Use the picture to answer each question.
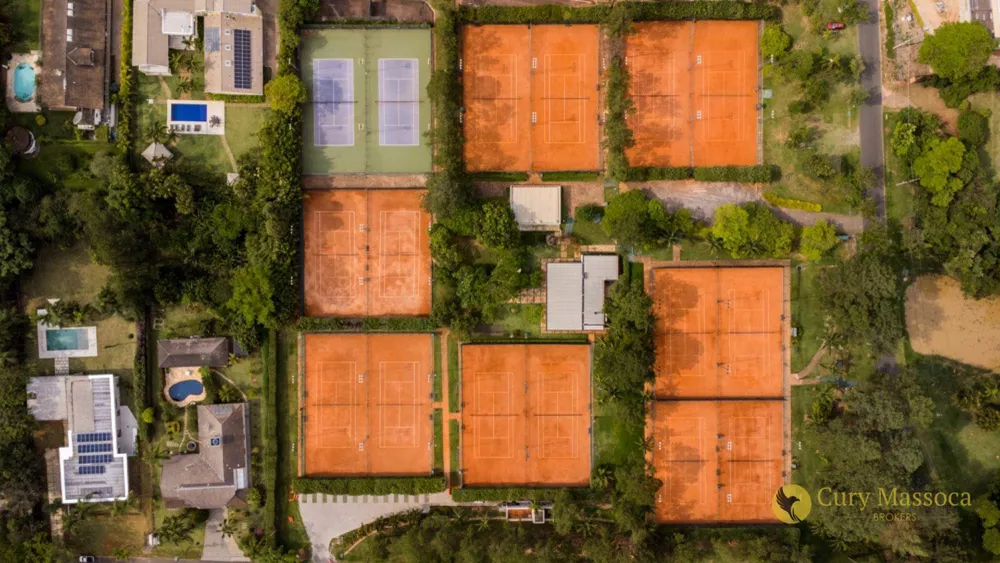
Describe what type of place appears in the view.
sports ground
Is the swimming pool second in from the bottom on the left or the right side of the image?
left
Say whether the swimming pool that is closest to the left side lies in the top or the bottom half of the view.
top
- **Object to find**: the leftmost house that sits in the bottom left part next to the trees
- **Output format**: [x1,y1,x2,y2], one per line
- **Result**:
[27,374,140,503]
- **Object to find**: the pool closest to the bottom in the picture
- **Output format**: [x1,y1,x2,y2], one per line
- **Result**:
[163,367,206,407]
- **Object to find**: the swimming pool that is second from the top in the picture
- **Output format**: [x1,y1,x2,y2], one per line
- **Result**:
[167,100,225,135]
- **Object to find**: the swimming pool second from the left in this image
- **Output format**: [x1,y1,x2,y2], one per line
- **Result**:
[37,318,98,358]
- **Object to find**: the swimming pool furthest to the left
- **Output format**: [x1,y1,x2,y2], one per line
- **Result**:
[7,50,41,112]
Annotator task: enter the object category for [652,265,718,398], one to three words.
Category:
tennis court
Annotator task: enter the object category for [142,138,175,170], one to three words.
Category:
gazebo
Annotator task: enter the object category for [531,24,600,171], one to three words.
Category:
tennis court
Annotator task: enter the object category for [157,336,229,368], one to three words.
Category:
building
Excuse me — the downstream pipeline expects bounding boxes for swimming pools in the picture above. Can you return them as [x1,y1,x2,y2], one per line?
[167,100,225,135]
[37,318,98,358]
[7,50,41,112]
[163,367,206,407]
